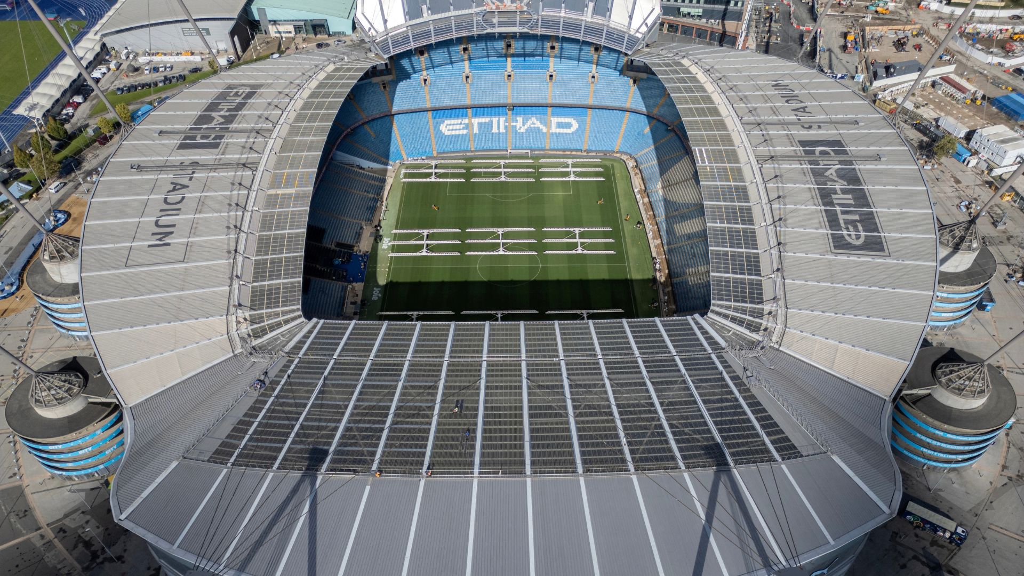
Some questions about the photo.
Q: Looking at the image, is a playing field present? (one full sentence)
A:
Yes, the photo shows a playing field.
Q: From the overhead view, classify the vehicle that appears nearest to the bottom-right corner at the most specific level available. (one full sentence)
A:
It turns out the vehicle that appears nearest to the bottom-right corner is a truck.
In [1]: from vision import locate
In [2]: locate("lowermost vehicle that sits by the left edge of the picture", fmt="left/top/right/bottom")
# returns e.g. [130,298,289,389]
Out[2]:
[45,178,65,192]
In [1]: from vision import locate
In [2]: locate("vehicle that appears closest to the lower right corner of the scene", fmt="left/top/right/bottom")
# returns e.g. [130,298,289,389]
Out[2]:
[901,503,970,551]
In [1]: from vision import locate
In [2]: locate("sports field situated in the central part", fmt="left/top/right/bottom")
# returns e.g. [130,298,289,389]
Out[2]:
[378,161,642,319]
